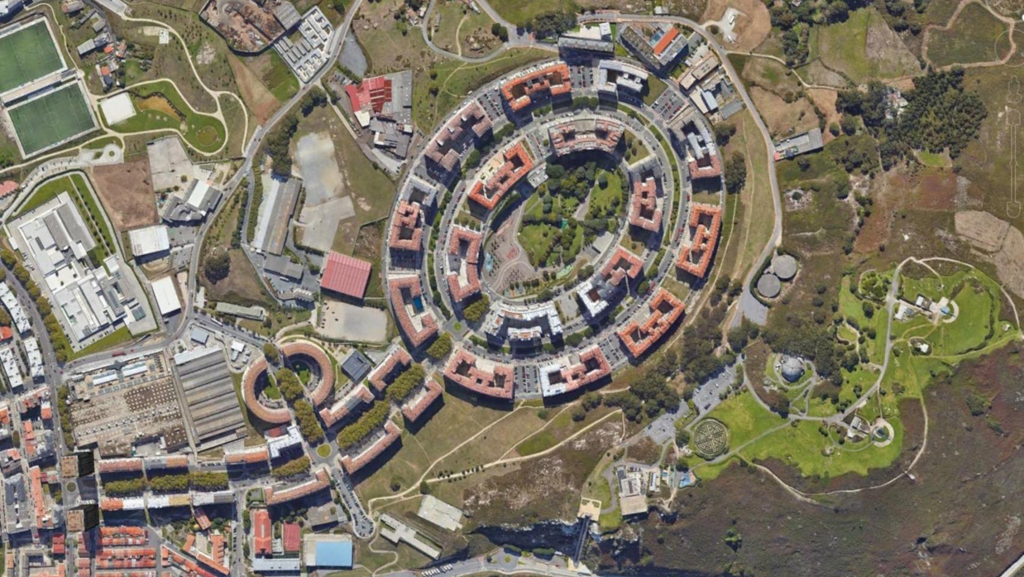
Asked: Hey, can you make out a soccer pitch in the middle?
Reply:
No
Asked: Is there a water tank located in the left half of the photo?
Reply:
No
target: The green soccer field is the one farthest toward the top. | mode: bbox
[0,16,67,98]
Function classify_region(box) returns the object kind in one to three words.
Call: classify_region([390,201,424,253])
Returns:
building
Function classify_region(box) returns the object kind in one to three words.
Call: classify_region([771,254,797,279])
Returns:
water tank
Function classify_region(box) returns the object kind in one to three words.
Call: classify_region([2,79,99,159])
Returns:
soccer field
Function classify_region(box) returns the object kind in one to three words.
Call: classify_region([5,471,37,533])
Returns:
house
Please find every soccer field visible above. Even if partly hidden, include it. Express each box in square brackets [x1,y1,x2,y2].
[2,79,99,159]
[0,16,67,98]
